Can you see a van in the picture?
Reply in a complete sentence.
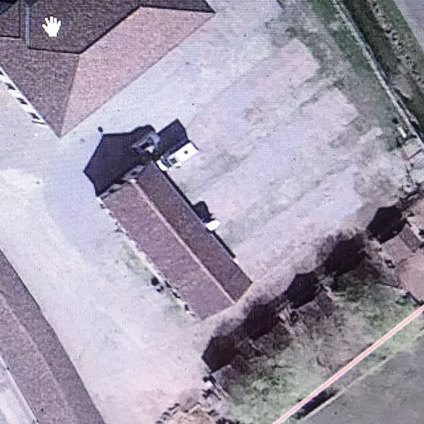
Yes, there's a van here.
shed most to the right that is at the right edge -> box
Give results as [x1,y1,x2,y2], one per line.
[374,227,424,263]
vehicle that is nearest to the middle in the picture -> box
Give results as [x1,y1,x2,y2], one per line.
[204,215,220,231]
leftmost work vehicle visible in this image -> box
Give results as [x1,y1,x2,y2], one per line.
[132,132,158,156]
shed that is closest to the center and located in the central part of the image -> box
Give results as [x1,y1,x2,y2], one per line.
[94,161,253,320]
